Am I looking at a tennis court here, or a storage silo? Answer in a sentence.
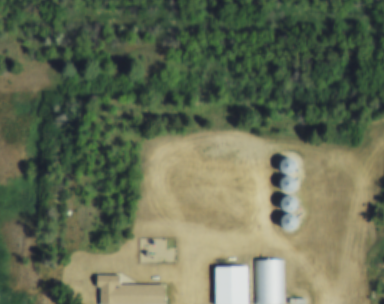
The image shows a storage silo.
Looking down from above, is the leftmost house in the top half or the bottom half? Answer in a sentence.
The leftmost house sits in the bottom half of the picture.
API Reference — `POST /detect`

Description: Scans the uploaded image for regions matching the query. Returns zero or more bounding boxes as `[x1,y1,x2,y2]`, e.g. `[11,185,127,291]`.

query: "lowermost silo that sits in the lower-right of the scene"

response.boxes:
[280,214,302,233]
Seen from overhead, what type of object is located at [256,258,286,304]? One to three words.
shed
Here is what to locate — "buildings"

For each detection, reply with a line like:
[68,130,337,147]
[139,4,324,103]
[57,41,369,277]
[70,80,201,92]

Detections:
[256,258,286,304]
[216,265,250,304]
[98,275,166,304]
